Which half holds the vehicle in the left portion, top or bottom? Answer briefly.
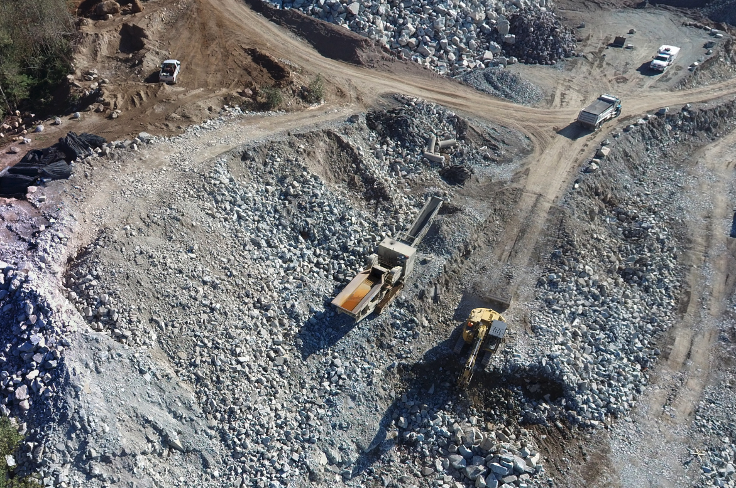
top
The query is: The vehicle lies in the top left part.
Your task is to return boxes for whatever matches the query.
[161,58,183,77]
